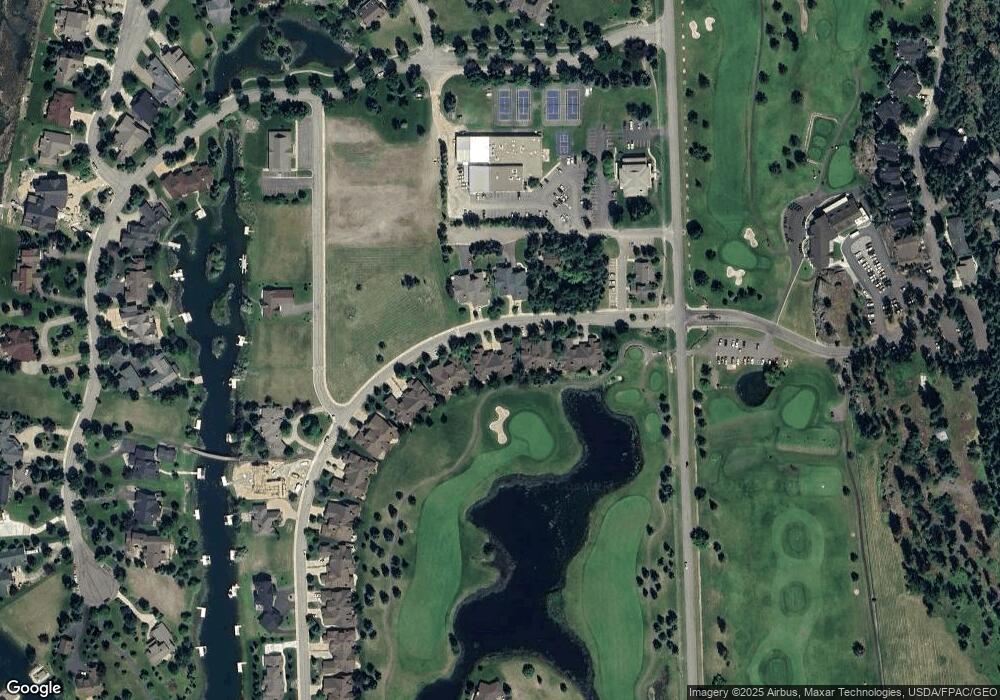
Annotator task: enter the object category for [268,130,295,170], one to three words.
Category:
building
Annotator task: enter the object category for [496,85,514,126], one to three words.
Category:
tennis court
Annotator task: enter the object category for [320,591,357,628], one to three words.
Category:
house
